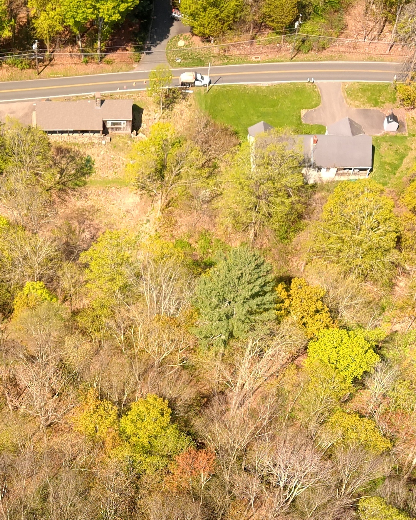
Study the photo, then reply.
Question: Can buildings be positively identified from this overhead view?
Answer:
Yes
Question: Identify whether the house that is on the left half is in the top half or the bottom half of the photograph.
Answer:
top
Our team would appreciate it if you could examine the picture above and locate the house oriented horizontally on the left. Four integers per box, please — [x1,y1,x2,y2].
[35,96,133,139]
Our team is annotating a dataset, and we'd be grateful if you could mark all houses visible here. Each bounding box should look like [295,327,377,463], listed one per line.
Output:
[247,117,373,183]
[35,96,133,139]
